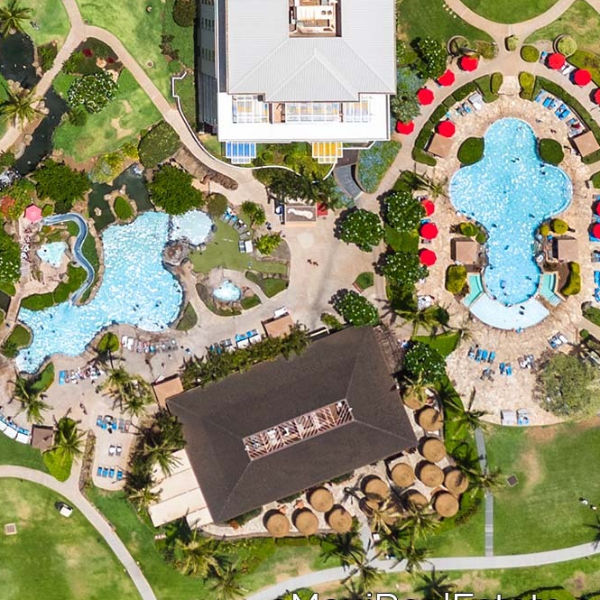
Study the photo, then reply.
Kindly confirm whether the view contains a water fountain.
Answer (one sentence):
Yes, the frame does contain a water fountain.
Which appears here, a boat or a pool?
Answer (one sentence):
There is a pool in the scene.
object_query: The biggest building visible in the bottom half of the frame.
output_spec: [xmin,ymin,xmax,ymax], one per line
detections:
[166,323,418,524]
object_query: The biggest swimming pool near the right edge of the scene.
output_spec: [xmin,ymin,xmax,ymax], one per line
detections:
[447,115,575,333]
